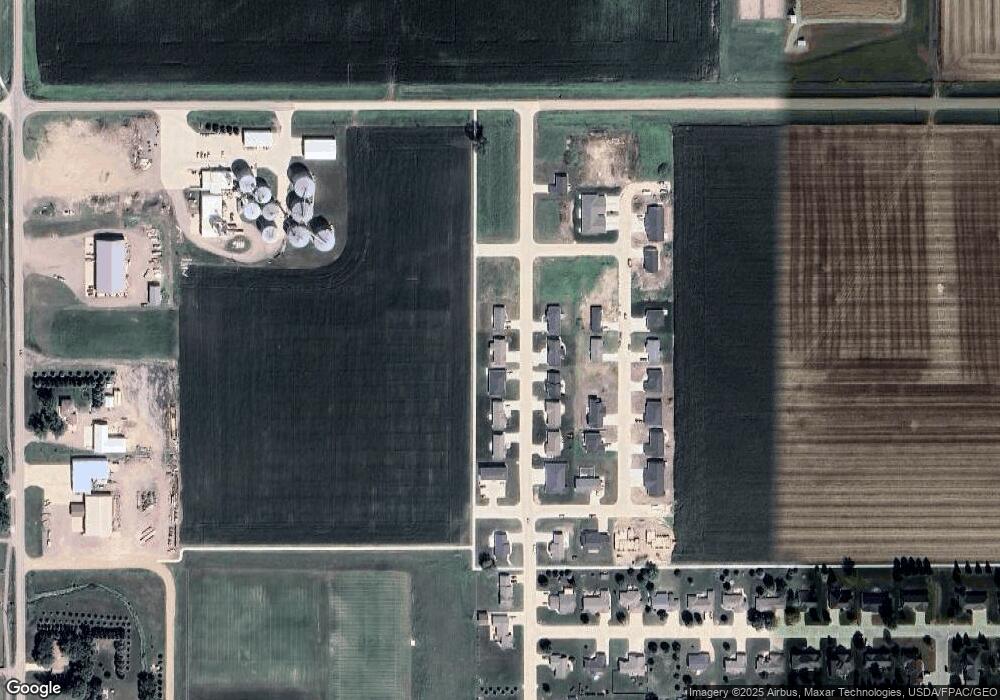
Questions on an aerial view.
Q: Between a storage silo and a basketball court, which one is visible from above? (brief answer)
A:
storage silo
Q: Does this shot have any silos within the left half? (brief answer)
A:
Yes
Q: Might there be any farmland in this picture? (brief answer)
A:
Yes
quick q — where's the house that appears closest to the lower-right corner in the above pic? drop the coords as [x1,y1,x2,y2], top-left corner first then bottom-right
[965,663,979,685]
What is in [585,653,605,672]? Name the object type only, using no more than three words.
house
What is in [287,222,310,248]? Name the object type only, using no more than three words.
silo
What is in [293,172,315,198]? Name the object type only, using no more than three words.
silo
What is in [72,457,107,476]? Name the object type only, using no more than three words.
shed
